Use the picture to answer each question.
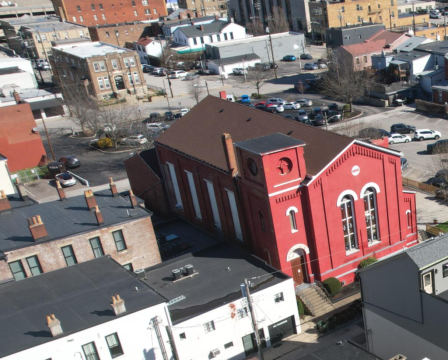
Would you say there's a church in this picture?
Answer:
Yes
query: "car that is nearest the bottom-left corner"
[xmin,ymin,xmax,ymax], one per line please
[54,172,79,188]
